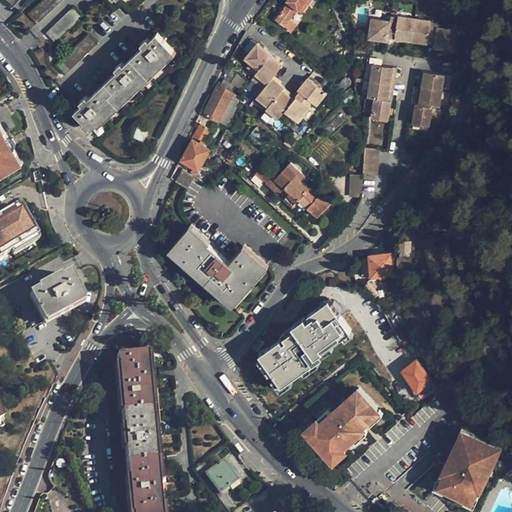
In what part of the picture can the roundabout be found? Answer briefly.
left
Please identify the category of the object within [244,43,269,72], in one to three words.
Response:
house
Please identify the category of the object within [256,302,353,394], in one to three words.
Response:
building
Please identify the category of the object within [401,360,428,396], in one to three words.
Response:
house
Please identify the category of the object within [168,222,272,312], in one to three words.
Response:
building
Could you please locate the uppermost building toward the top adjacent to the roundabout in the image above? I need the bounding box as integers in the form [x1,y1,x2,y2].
[72,32,182,137]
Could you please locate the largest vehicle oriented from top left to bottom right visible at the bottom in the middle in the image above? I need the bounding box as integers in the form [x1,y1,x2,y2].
[220,374,237,394]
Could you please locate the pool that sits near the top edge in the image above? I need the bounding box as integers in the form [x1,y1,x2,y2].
[353,3,372,27]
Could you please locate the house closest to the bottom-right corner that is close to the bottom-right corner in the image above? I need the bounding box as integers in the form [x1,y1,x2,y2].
[433,426,502,512]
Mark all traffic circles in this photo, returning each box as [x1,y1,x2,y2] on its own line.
[64,172,148,254]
